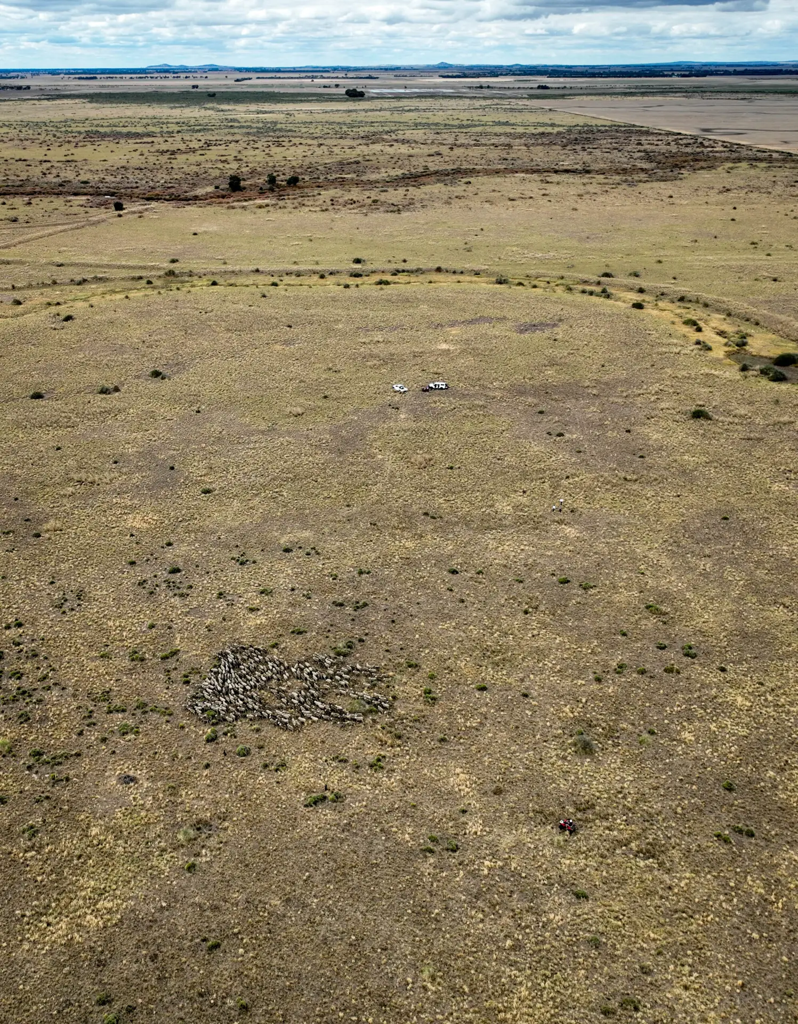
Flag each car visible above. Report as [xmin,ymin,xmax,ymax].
[393,384,407,391]
[428,381,449,390]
